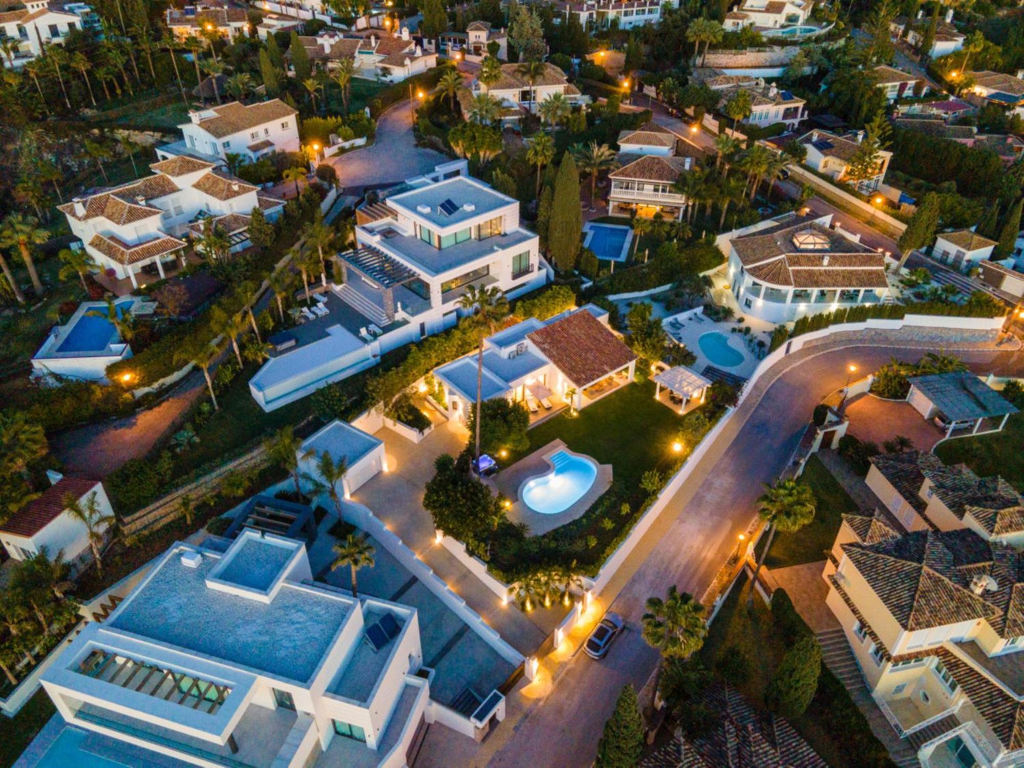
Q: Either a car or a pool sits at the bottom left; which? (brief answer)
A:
pool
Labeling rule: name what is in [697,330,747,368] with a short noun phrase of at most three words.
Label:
swimming pool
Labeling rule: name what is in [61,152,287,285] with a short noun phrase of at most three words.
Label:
house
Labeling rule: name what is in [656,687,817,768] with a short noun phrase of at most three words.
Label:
house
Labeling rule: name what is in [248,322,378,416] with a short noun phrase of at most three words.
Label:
swimming pool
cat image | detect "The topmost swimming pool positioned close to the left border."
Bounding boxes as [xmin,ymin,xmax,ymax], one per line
[28,295,158,373]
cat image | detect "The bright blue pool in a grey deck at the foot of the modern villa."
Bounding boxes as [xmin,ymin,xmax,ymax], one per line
[11,720,187,768]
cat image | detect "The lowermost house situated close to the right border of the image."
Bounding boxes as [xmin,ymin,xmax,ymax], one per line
[819,453,1024,768]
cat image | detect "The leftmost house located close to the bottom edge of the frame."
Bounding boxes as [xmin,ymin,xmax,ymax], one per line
[33,526,435,768]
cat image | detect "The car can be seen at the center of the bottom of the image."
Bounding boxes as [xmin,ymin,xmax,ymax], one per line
[589,617,630,662]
